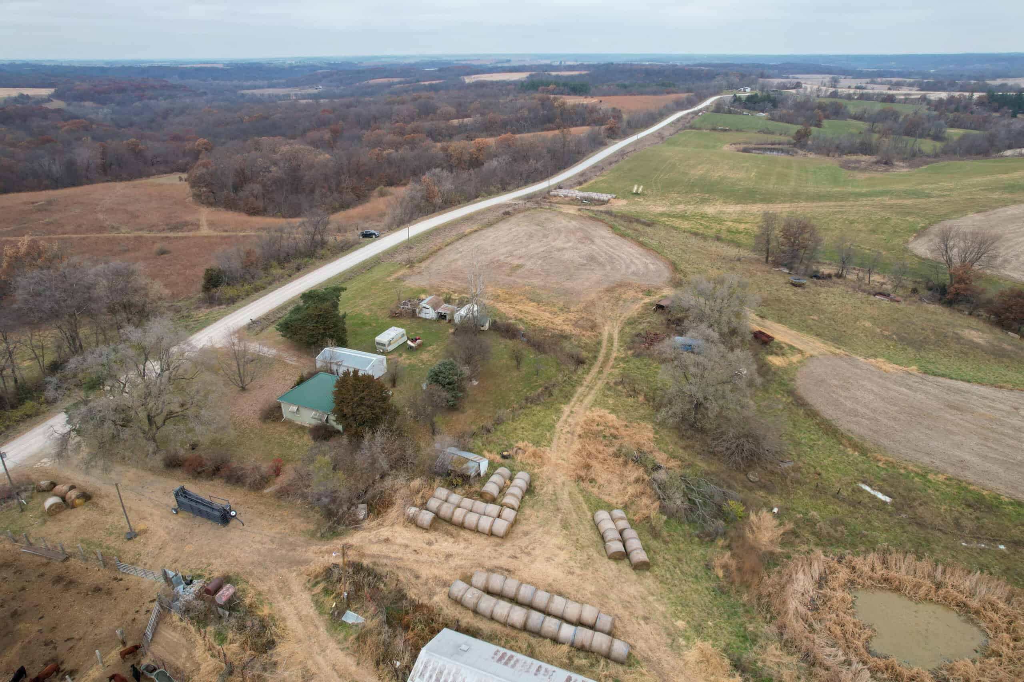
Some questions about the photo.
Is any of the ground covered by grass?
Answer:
Yes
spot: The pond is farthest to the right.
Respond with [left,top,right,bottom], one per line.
[856,591,981,671]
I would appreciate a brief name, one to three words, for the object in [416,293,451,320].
shed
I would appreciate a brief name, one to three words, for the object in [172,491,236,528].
trailer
